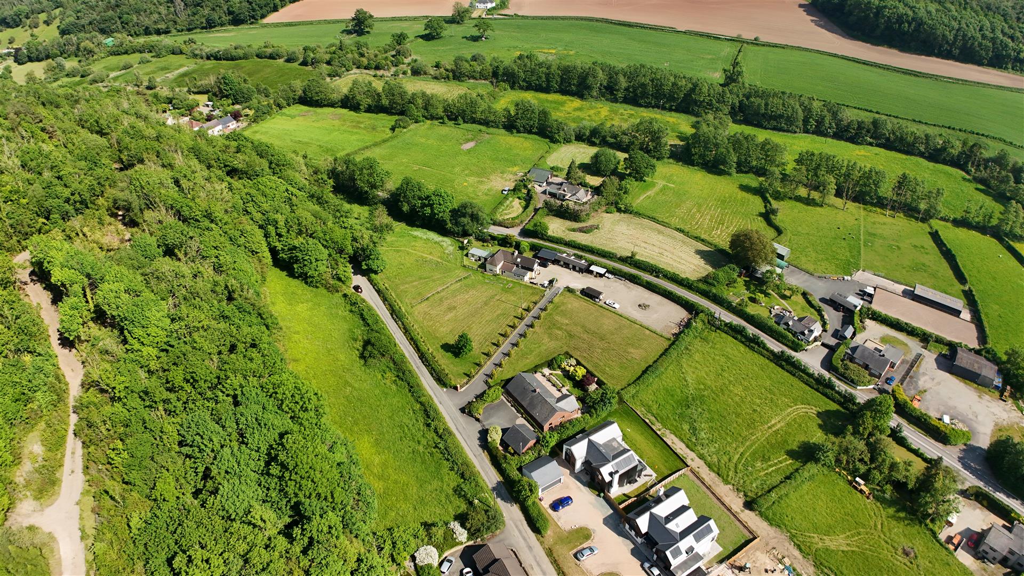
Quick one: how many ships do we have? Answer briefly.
none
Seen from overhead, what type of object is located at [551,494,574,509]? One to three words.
car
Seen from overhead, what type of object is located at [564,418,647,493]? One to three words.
house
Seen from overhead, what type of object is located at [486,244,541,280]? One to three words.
house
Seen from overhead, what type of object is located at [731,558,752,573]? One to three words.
work vehicle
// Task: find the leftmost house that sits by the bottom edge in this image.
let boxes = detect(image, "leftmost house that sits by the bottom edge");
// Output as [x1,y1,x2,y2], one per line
[473,539,531,576]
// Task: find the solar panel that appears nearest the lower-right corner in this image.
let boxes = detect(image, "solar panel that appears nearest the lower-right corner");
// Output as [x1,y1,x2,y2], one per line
[693,523,713,544]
